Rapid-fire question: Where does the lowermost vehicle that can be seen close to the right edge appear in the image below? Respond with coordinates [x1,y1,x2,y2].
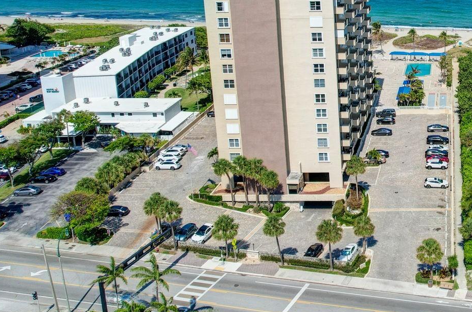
[424,176,450,189]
